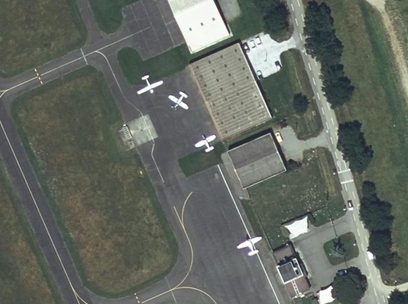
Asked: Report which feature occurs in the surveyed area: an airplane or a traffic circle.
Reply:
airplane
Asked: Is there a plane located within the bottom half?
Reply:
Yes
